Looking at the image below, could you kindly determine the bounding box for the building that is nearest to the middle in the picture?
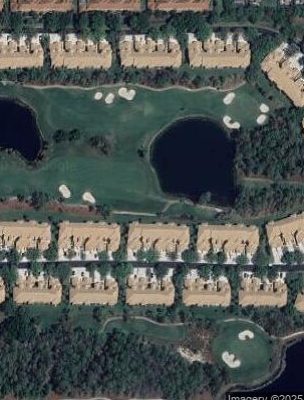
[127,221,189,250]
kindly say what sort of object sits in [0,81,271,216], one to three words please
golf course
